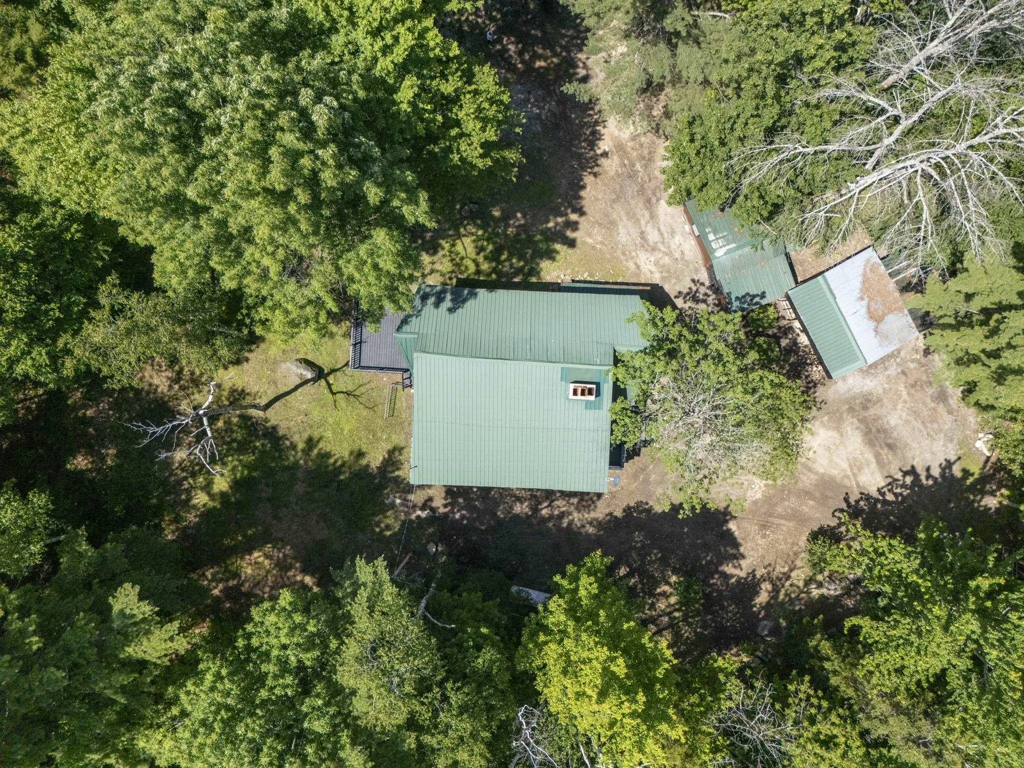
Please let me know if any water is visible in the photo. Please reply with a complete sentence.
No, the picture contains no water.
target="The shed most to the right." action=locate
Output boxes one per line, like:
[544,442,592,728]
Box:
[784,237,937,379]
